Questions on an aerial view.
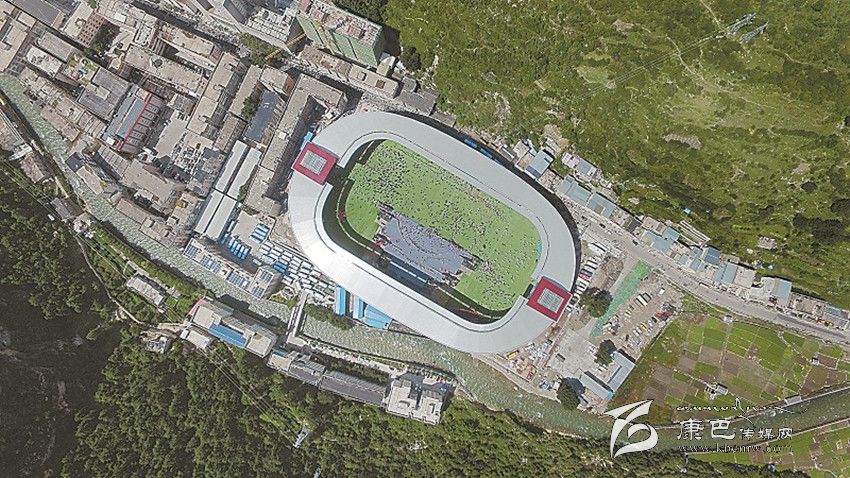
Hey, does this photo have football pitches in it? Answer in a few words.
Yes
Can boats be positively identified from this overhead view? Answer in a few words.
No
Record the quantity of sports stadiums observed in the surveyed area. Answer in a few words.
1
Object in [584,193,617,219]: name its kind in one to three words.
house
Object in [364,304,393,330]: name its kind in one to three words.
shed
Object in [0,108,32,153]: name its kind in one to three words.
building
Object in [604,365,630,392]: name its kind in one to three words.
shed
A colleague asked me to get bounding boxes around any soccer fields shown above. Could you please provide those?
[340,148,537,309]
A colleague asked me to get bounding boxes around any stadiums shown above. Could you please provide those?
[285,113,578,356]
